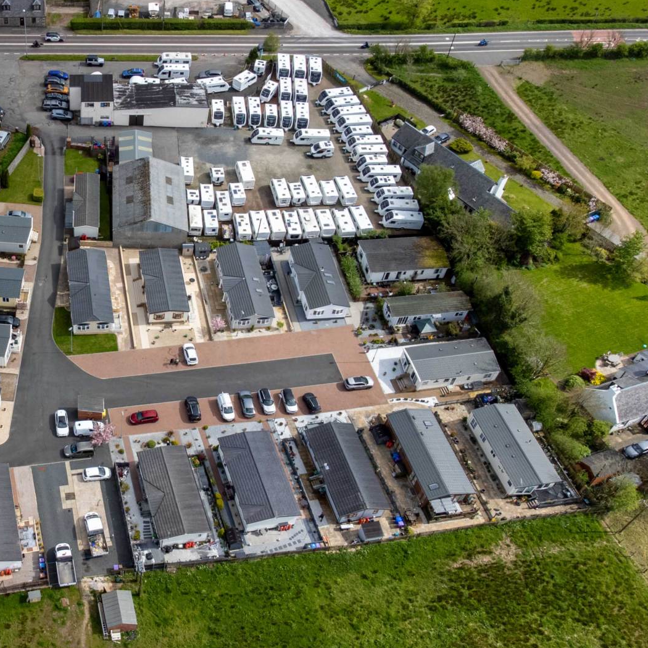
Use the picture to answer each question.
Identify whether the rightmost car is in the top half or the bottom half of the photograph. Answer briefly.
bottom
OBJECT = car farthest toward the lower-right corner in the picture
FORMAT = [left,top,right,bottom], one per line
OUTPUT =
[620,439,648,461]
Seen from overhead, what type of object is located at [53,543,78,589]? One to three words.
truck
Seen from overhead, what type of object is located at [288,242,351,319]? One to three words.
house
